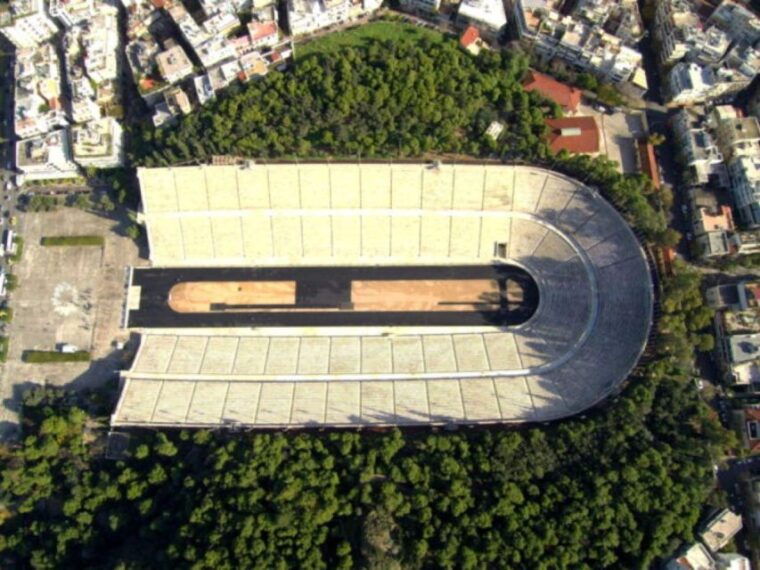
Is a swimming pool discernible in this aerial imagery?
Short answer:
No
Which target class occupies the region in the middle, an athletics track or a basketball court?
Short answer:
athletics track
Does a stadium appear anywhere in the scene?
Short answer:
Yes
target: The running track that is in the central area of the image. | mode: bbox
[123,264,541,329]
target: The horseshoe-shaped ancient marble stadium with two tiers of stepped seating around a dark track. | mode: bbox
[107,163,656,429]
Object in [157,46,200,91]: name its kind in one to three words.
building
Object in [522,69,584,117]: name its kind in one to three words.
building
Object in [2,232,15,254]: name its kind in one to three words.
vehicle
